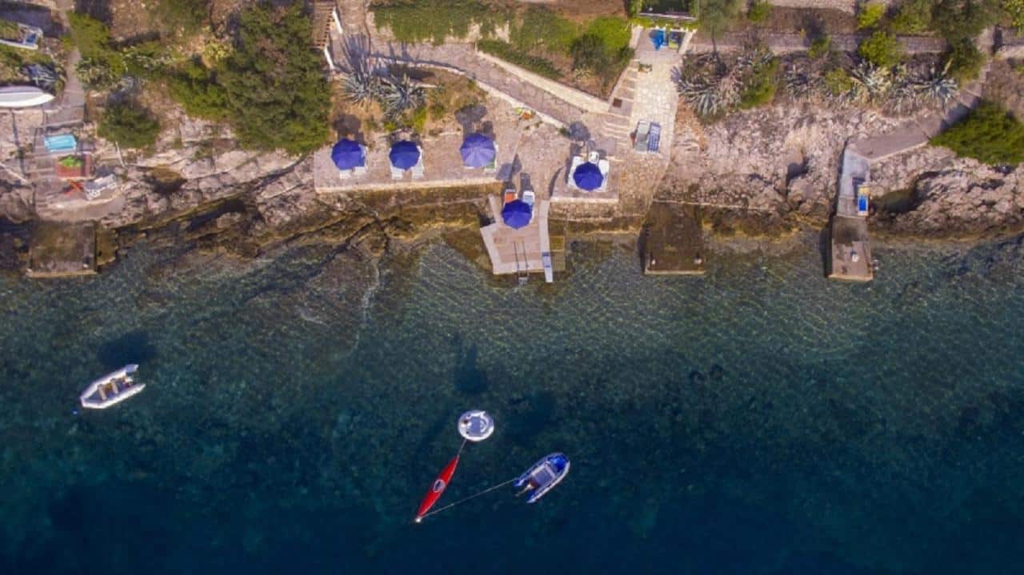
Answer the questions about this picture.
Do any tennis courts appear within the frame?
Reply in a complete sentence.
No, I find no tennis court anywhere in the image.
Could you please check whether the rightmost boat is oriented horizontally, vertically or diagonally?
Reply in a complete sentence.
Seen from above, the rightmost boat lies diagonally.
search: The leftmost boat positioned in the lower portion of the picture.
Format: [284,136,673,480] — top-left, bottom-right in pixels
[78,365,145,411]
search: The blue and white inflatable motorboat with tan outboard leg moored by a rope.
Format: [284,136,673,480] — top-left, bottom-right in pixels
[514,450,572,503]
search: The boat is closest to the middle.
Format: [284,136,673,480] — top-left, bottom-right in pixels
[457,408,496,443]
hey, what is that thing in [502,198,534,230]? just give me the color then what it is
blue umbrella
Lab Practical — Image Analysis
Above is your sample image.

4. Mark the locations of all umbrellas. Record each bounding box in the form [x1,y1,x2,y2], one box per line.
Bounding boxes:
[502,198,534,230]
[646,31,669,59]
[390,141,421,171]
[571,162,603,193]
[460,134,496,169]
[333,138,368,172]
